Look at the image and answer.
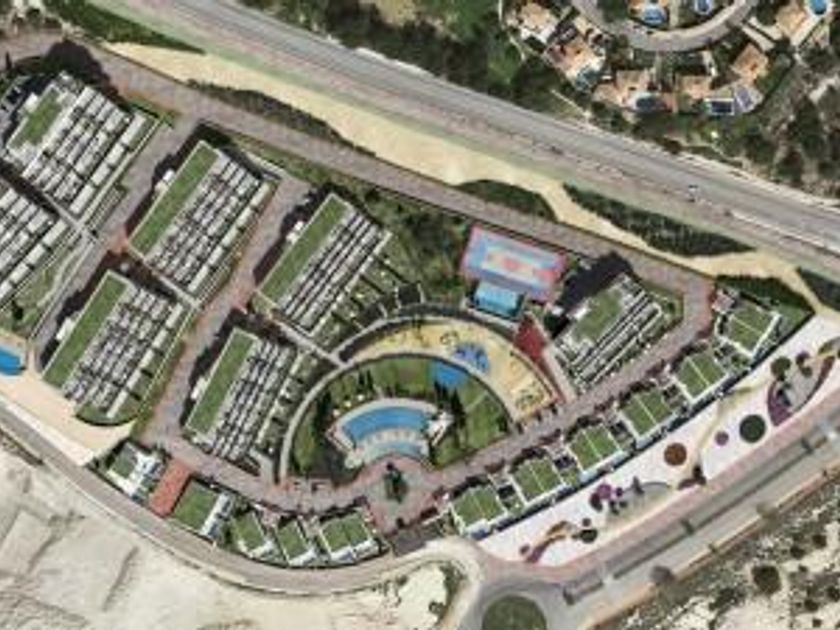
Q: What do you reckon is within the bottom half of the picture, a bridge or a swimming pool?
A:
swimming pool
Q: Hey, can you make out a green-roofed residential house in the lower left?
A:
Yes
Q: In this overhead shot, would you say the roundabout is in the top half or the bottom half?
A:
bottom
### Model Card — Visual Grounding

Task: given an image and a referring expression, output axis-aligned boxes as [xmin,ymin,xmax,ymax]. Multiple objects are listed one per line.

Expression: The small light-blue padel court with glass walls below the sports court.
[472,281,524,319]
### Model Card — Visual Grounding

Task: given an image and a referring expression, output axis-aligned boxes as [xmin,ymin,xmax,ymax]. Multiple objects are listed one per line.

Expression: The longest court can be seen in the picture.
[459,223,566,303]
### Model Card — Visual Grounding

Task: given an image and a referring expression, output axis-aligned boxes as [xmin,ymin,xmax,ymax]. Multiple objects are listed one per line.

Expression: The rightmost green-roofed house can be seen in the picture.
[717,291,787,361]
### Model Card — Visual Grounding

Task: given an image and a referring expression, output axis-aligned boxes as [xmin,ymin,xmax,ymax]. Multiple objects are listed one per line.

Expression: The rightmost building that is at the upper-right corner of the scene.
[769,2,818,48]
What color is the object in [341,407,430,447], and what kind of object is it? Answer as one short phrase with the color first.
blue swimming pool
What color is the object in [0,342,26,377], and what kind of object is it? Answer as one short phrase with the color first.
blue swimming pool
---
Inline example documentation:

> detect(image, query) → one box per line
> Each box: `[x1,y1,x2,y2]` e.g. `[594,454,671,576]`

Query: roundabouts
[457,571,571,630]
